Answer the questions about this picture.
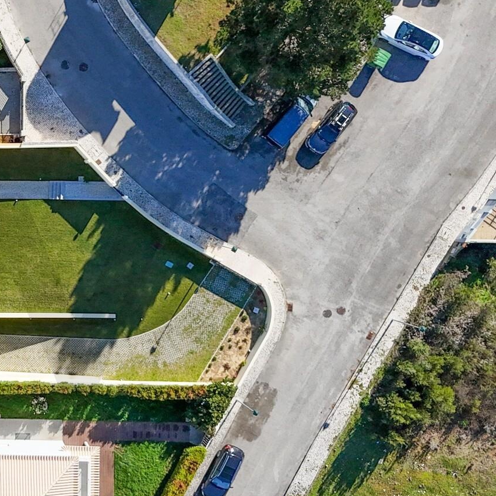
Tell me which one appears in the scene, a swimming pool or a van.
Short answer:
van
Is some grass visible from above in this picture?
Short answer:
Yes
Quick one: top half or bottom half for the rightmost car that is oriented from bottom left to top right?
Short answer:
top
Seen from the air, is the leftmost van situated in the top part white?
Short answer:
No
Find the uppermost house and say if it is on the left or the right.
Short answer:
right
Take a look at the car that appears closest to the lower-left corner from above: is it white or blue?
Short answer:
blue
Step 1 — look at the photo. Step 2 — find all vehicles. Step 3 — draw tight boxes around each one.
[260,101,311,153]
[201,444,243,496]
[390,20,440,58]
[306,99,355,156]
